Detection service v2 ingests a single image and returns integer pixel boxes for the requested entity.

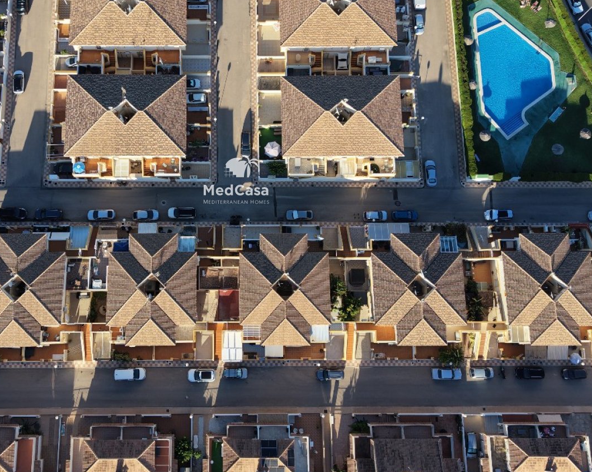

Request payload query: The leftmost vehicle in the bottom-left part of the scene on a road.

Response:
[111,367,147,383]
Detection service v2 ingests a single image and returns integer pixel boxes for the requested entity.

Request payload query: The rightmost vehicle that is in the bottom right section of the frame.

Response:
[559,367,589,382]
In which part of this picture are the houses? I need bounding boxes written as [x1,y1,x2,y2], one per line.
[105,233,197,346]
[479,421,592,472]
[365,233,466,346]
[239,233,332,346]
[68,0,187,73]
[280,74,405,179]
[489,232,592,345]
[203,421,320,472]
[278,0,398,74]
[64,421,182,472]
[0,421,44,472]
[63,74,187,178]
[0,234,72,347]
